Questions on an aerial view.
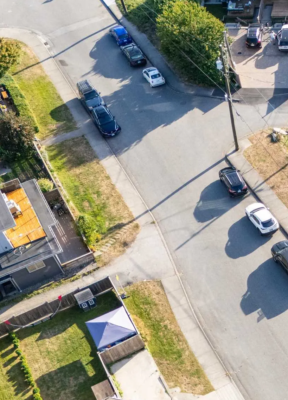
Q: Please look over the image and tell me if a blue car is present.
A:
Yes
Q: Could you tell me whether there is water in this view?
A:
No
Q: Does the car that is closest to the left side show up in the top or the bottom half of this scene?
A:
top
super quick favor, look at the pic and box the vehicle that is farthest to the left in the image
[75,76,105,113]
